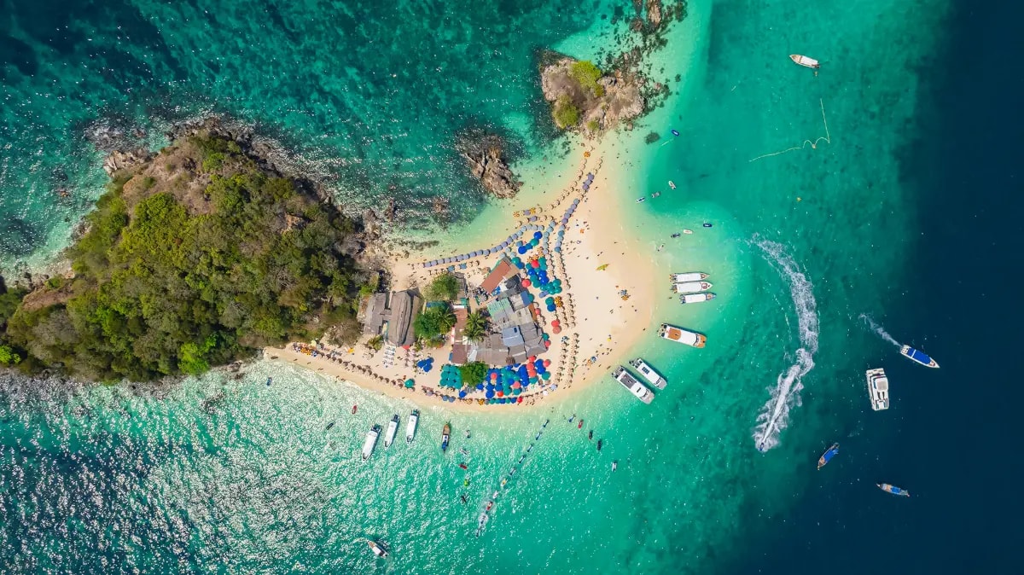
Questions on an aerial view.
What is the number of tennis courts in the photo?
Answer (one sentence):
No tennis courts are visible.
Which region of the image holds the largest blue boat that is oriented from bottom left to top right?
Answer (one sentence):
Look in the bottom right portion of the view to spot the largest blue boat that is oriented from bottom left to top right.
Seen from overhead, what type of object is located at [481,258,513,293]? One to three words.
shed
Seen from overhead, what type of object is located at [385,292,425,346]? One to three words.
building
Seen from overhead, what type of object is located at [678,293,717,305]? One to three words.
boat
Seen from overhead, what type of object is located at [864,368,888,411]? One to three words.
boat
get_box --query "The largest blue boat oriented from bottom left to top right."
[818,442,841,471]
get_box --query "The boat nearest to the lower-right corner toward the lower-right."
[877,484,912,497]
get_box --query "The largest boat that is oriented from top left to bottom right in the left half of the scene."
[368,539,390,559]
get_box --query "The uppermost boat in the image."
[789,55,821,71]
